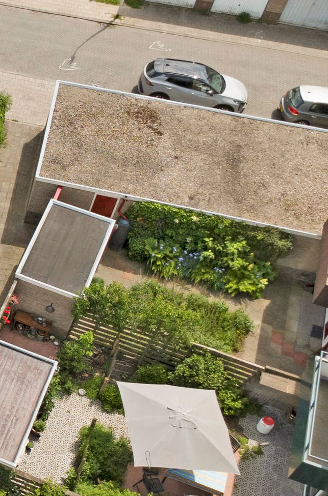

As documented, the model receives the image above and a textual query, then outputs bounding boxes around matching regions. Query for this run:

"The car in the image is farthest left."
[136,55,248,115]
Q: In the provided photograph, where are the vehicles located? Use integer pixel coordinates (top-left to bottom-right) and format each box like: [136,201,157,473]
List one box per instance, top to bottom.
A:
[136,55,248,115]
[276,83,328,132]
